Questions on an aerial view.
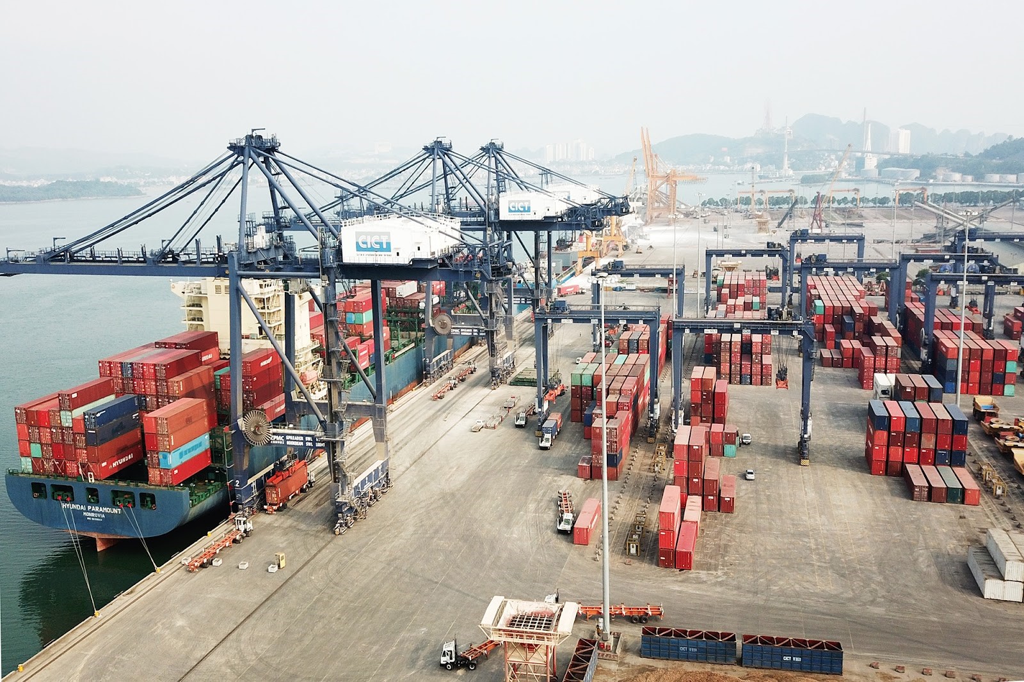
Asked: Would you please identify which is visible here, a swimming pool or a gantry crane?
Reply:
gantry crane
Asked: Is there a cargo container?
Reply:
Yes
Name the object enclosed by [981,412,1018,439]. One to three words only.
truck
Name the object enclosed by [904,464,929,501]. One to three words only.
shipping container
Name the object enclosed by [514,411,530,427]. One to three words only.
vehicle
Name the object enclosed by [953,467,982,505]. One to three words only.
shipping container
